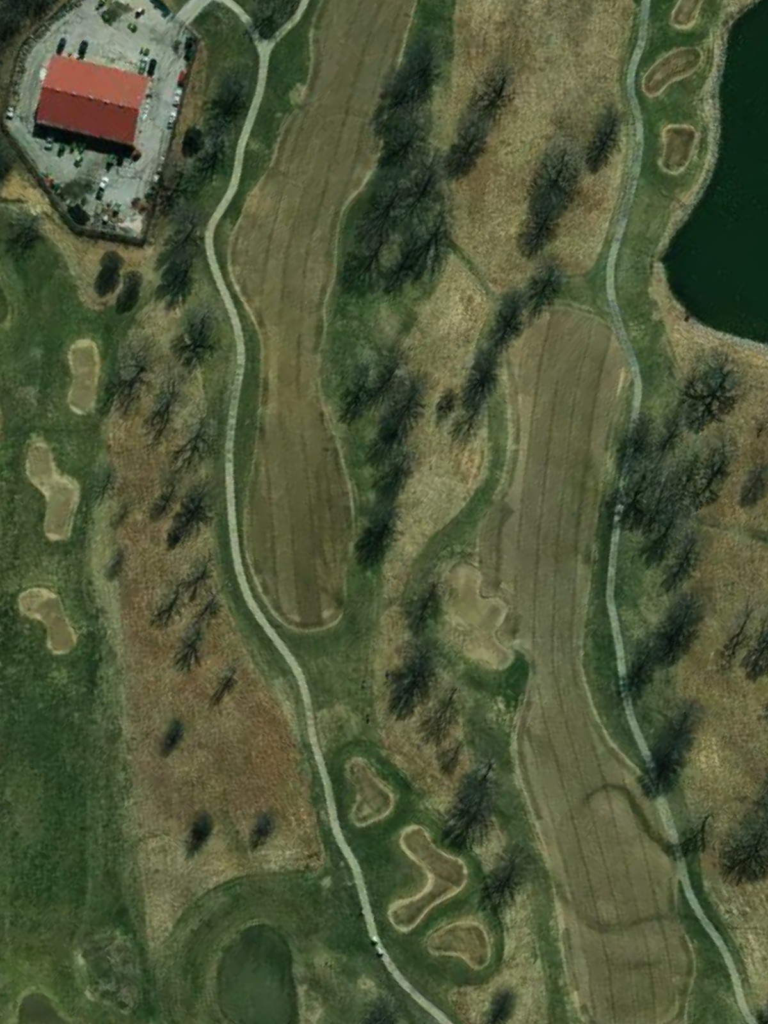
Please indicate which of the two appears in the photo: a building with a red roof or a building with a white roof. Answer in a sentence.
This aerial view contains a building with a red roof.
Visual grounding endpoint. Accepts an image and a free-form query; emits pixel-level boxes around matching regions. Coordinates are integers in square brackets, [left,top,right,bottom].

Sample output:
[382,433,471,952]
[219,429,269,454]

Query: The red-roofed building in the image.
[35,56,150,144]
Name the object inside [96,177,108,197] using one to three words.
vehicle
